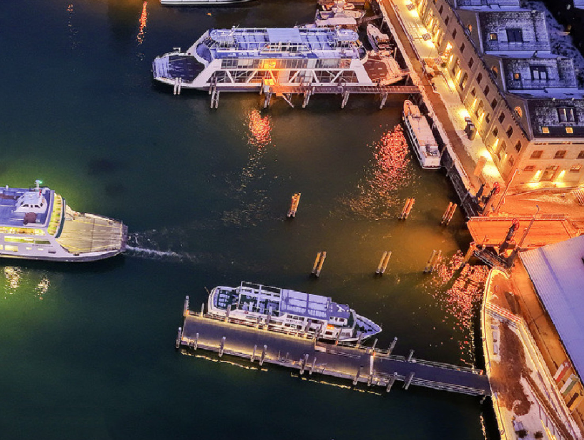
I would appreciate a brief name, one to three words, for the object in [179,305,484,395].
pier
